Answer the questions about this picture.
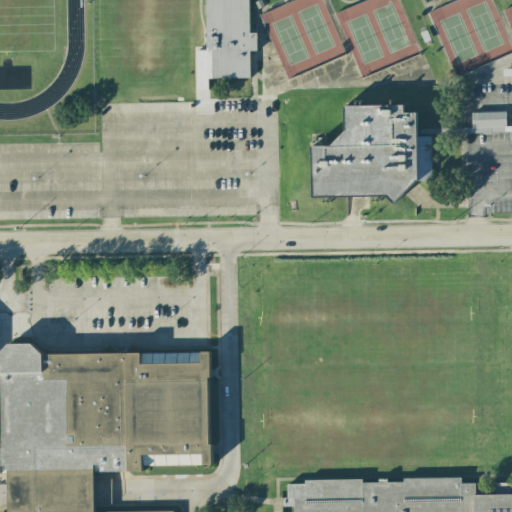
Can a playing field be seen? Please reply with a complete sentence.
Yes, there's a playing field here.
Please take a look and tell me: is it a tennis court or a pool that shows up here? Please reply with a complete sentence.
I can see a tennis court in this picture.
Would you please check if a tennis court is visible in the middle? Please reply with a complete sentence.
No, looking in the middle, there is no tennis court.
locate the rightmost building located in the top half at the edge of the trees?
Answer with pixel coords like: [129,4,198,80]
[472,112,508,134]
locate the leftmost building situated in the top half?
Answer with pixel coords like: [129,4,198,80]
[206,0,259,78]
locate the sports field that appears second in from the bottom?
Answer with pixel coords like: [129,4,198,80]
[241,260,512,368]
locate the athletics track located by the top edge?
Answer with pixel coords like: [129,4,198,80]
[0,0,86,120]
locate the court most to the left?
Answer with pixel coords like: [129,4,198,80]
[262,3,318,78]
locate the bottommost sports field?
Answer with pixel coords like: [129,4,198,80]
[241,368,512,474]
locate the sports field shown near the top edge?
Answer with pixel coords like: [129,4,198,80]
[0,0,56,52]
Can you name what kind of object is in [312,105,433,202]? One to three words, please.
building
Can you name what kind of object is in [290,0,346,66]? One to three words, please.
tennis court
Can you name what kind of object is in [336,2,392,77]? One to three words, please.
tennis court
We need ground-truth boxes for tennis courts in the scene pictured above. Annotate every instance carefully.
[290,0,346,66]
[430,1,486,76]
[336,2,392,77]
[458,0,512,64]
[364,0,420,64]
[262,3,318,78]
